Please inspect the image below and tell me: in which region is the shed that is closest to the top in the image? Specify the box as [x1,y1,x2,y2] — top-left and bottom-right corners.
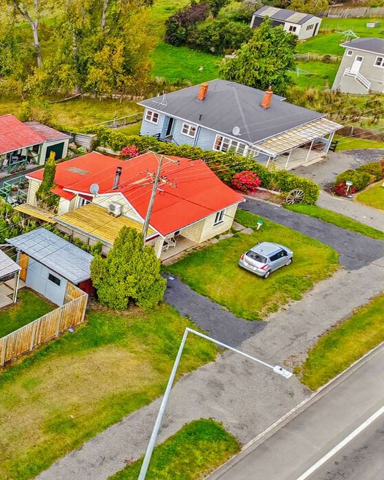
[251,2,323,37]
